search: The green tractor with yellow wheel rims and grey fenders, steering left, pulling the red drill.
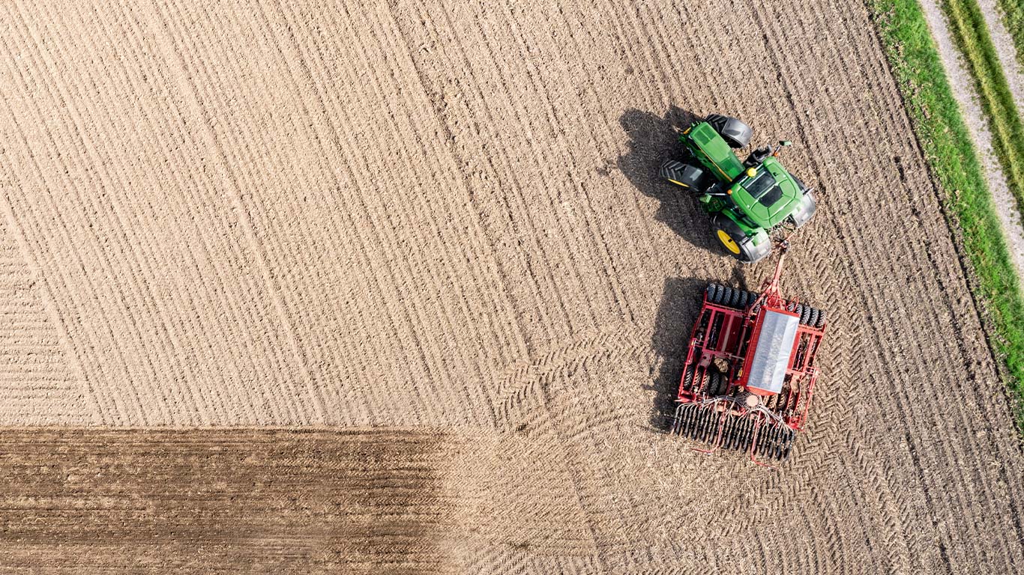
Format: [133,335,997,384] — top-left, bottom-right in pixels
[658,114,817,267]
